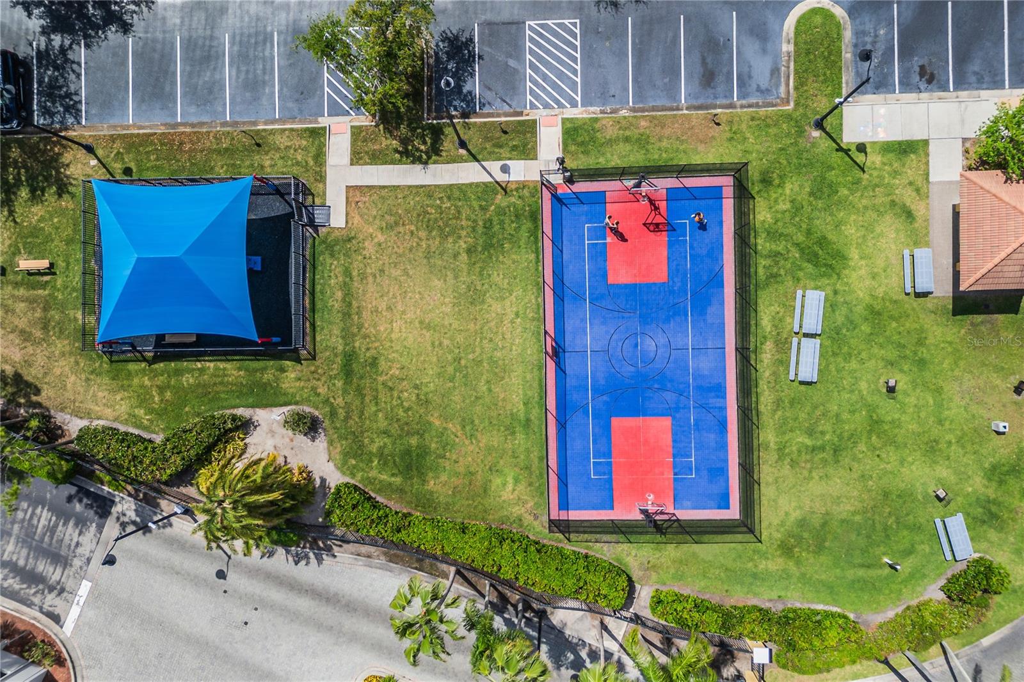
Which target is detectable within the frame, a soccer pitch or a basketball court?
basketball court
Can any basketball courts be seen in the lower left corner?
No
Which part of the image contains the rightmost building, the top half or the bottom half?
top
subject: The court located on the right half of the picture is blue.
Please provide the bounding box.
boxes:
[540,172,741,522]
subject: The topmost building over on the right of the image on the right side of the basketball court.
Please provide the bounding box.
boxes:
[948,170,1024,292]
